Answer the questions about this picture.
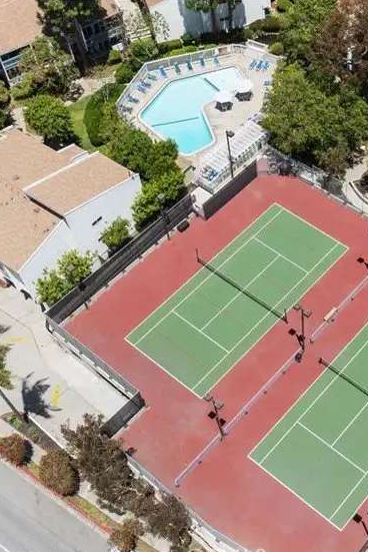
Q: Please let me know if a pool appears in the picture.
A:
Yes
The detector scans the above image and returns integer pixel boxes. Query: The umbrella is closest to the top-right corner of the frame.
[231,77,254,91]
